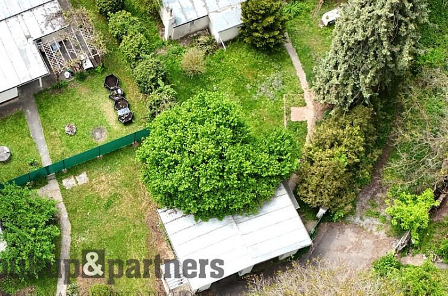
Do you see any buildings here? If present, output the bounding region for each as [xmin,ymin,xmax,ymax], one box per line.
[156,185,314,296]
[0,0,68,105]
[153,0,254,49]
